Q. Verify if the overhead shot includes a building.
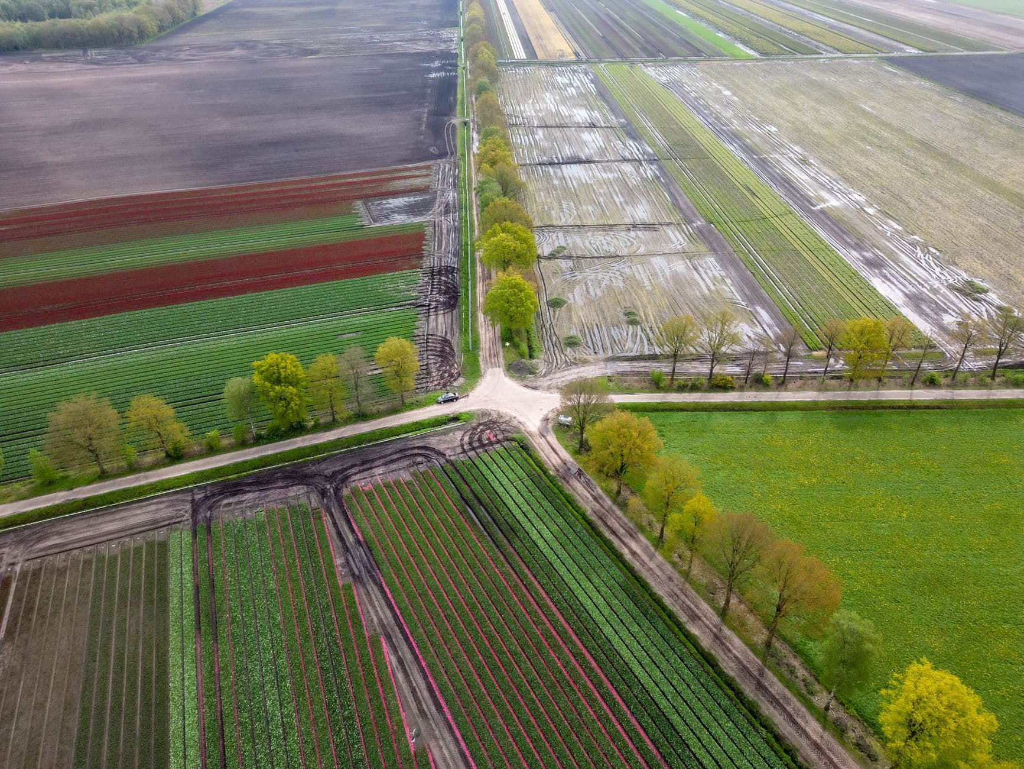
No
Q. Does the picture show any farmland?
Yes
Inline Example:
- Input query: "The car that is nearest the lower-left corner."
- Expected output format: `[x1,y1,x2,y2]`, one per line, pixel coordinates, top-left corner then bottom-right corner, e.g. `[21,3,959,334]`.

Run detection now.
[435,393,460,405]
